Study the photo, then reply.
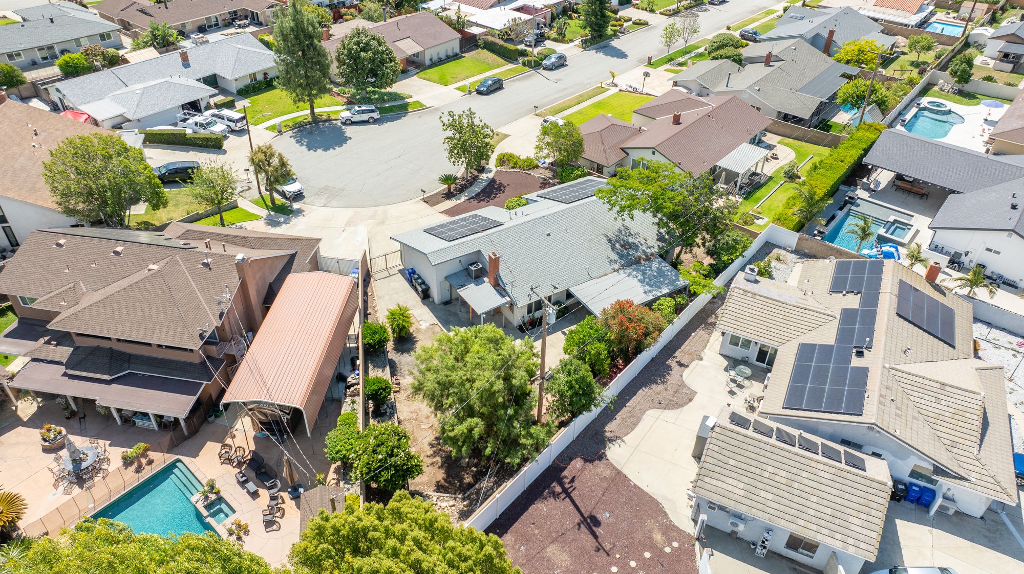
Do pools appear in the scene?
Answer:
Yes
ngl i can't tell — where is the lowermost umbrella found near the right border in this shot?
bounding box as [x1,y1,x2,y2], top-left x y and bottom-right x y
[978,98,1005,120]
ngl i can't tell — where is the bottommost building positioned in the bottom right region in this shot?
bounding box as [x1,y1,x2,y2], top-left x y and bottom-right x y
[693,406,891,574]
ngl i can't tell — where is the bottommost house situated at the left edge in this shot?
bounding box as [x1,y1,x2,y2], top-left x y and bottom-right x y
[0,217,335,442]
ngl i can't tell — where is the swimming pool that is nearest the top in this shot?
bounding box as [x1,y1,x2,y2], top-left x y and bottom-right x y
[923,20,963,36]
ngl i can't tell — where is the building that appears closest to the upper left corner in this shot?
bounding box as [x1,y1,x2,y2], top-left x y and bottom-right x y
[0,0,123,69]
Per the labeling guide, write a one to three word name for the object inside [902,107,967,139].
swimming pool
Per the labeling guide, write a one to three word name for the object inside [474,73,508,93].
car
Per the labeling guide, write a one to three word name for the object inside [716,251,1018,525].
house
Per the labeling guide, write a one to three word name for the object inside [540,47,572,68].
car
